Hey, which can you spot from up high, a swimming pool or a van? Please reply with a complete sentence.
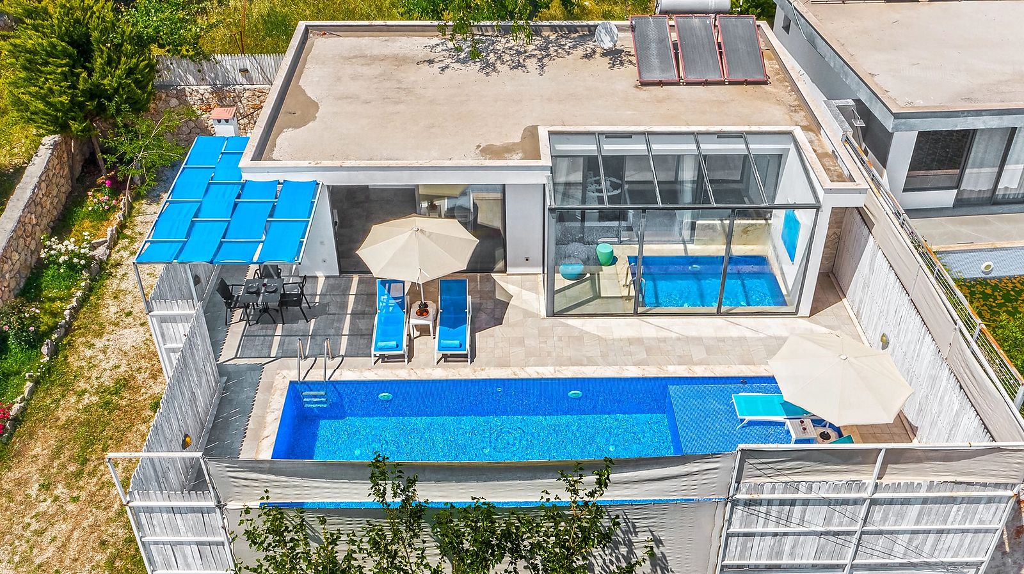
Of the two, only a swimming pool appears.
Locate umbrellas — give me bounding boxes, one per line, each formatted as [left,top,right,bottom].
[355,212,481,315]
[766,329,914,439]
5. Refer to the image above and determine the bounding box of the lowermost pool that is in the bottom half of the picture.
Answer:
[229,365,872,551]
